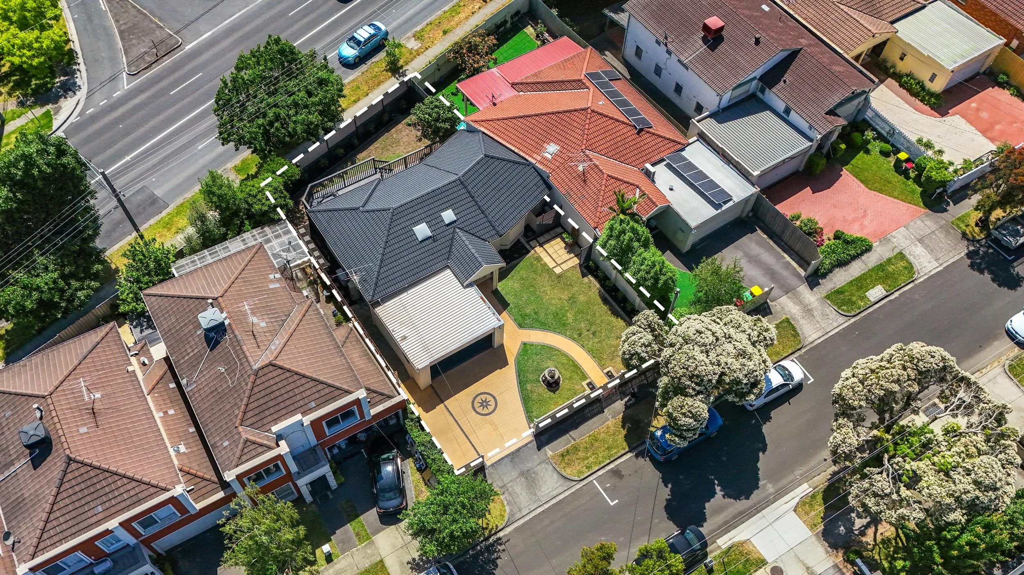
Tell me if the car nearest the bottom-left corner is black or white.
black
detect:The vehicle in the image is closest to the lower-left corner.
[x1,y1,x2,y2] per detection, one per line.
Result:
[365,431,410,518]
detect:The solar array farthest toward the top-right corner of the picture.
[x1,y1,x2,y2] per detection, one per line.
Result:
[664,143,735,207]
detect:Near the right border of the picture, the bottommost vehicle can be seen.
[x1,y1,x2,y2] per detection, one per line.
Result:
[999,300,1024,337]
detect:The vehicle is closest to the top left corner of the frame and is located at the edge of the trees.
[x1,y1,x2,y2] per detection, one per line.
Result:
[332,19,388,64]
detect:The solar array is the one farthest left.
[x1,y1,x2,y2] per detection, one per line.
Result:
[586,63,652,129]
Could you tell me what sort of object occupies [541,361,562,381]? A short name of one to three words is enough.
fountain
